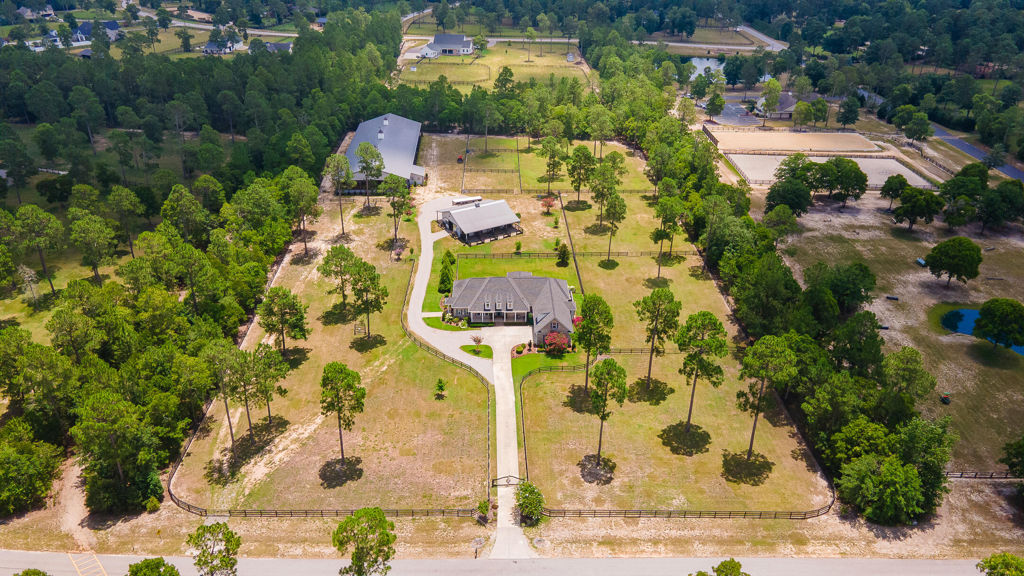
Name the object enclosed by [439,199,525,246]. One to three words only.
building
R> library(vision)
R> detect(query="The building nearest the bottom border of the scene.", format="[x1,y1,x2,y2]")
[444,270,577,343]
